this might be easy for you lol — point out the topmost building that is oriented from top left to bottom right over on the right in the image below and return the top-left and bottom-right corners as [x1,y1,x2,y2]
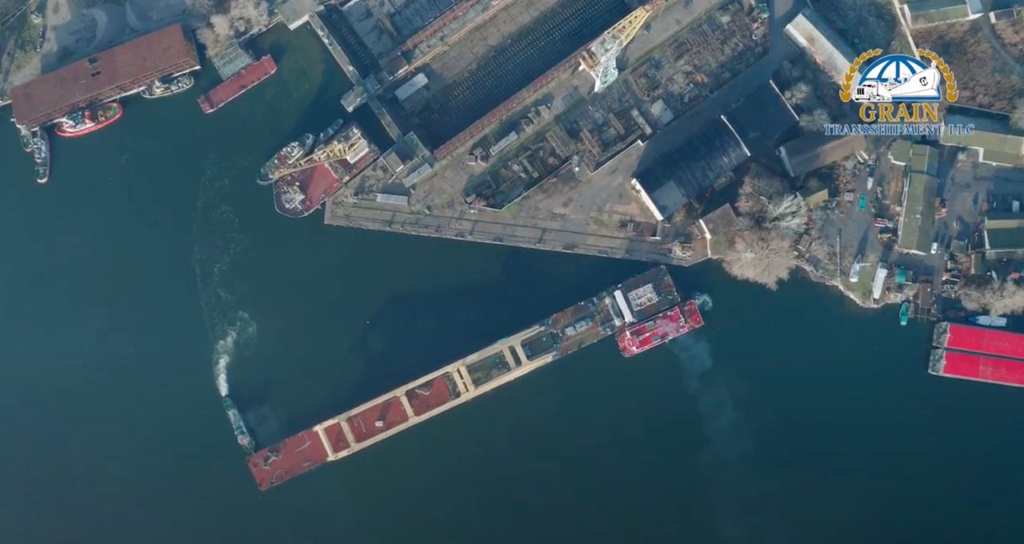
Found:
[779,14,859,92]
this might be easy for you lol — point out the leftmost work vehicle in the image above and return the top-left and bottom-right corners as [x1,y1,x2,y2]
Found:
[666,242,699,255]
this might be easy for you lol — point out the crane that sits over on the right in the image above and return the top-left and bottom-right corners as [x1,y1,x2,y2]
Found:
[577,5,653,95]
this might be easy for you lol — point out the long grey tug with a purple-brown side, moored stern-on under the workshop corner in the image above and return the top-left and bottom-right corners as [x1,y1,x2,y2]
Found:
[27,127,53,183]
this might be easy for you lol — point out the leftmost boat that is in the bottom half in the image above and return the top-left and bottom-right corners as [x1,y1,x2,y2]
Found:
[221,395,257,454]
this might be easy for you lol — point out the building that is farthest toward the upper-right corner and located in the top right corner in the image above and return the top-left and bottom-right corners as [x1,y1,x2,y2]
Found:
[985,6,1019,23]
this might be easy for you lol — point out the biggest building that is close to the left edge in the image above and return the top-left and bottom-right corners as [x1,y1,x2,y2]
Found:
[11,23,203,134]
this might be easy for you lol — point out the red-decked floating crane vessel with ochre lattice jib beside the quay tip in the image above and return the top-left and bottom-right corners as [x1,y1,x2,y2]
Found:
[271,122,381,218]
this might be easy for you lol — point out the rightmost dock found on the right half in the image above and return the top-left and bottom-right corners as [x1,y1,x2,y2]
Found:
[910,282,941,323]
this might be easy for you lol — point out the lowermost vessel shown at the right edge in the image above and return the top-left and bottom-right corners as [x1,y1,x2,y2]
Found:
[924,349,1024,387]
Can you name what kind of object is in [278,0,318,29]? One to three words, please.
building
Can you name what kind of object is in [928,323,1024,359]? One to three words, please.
ship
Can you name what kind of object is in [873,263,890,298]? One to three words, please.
boat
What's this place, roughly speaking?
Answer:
port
